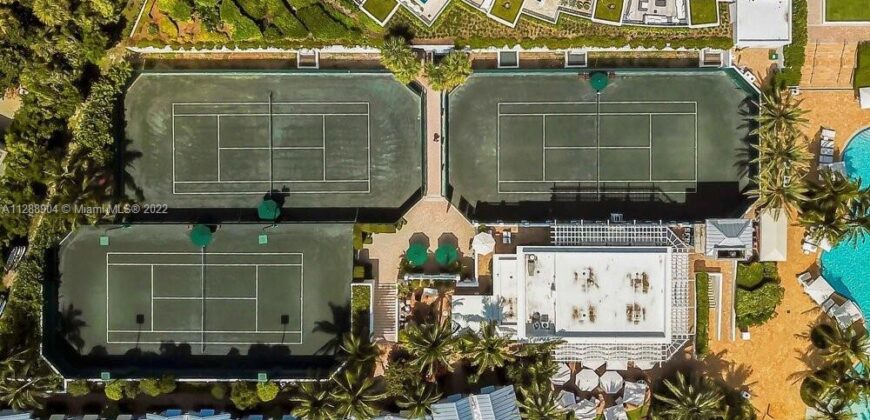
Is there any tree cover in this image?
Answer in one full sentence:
Yes, the picture does contain tree cover.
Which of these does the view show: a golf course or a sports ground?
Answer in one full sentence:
It's a sports ground.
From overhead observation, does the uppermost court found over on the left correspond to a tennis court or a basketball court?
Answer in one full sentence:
It turns out the uppermost court found over on the left is a tennis court.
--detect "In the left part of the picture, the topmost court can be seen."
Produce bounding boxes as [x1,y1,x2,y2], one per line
[125,74,421,222]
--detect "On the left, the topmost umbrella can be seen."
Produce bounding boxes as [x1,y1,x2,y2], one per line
[257,200,280,220]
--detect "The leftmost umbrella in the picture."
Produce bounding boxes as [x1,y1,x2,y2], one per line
[190,225,213,247]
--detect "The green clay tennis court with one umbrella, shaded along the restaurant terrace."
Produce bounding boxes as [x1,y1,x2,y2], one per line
[448,74,749,222]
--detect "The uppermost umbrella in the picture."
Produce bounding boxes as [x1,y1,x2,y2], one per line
[587,71,608,92]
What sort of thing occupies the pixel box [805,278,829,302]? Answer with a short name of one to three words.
umbrella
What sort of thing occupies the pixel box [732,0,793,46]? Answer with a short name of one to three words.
building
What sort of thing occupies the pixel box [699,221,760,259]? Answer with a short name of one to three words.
building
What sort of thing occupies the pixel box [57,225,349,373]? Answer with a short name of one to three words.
tennis court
